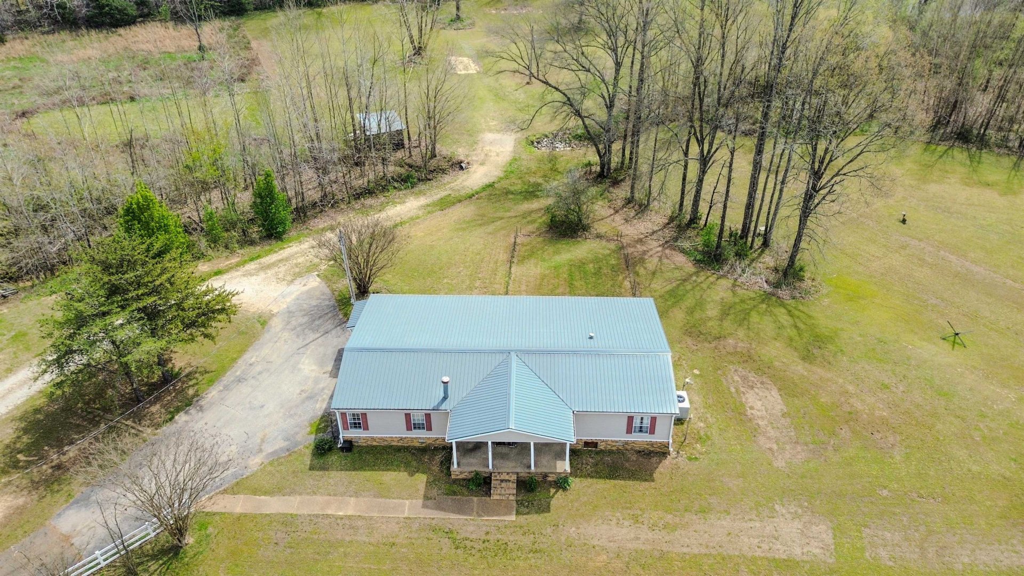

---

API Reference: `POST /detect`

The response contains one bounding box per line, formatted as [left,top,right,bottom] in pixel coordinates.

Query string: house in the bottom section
[330,294,680,481]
